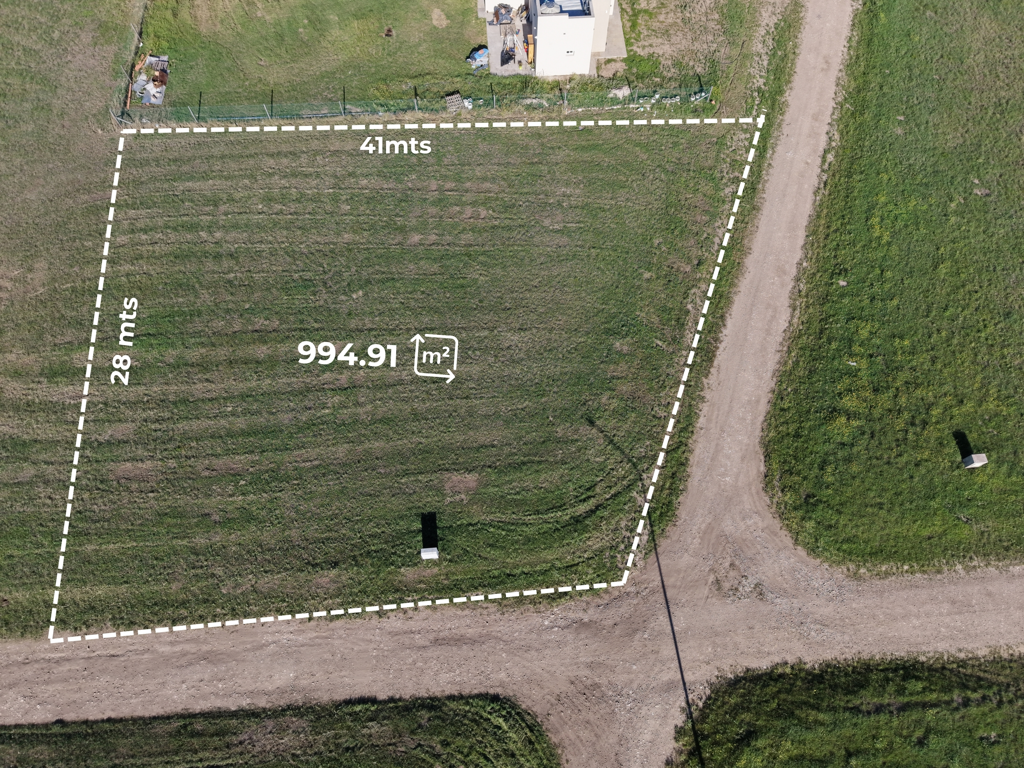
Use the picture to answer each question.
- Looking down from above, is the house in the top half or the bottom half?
top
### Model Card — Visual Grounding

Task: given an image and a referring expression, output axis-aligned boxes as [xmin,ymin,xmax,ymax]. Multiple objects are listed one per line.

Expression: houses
[485,0,614,75]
